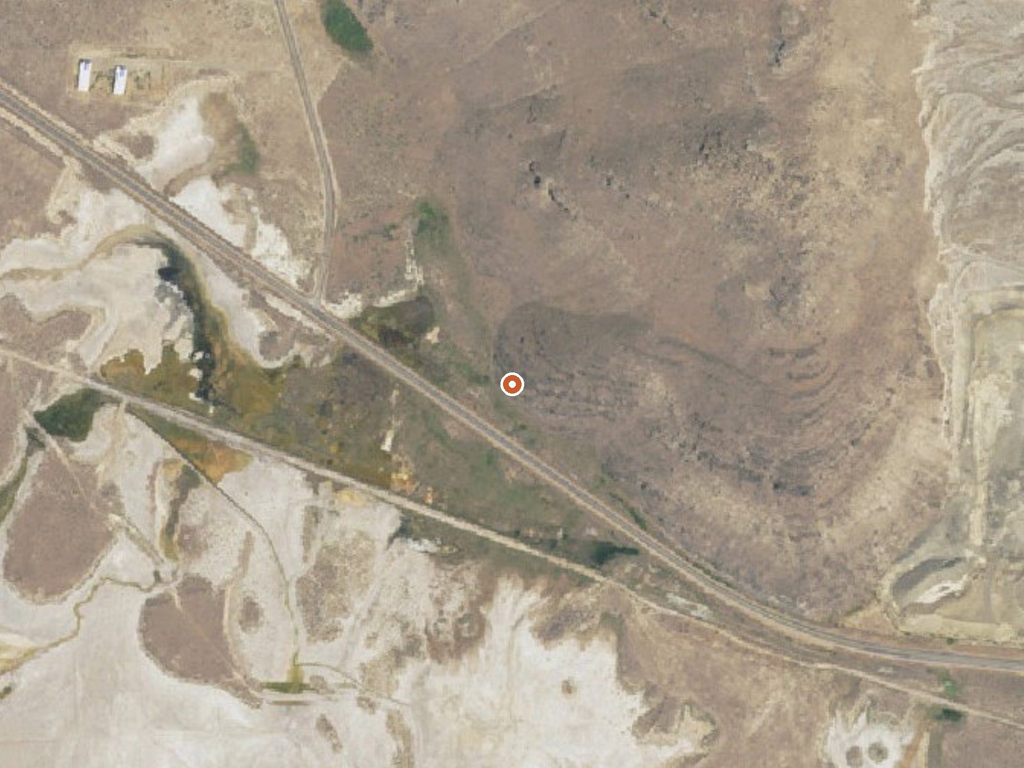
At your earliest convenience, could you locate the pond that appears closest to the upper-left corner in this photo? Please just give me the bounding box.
[142,240,216,409]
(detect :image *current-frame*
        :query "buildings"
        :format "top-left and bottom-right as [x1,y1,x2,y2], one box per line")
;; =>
[113,66,126,95]
[78,59,92,92]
